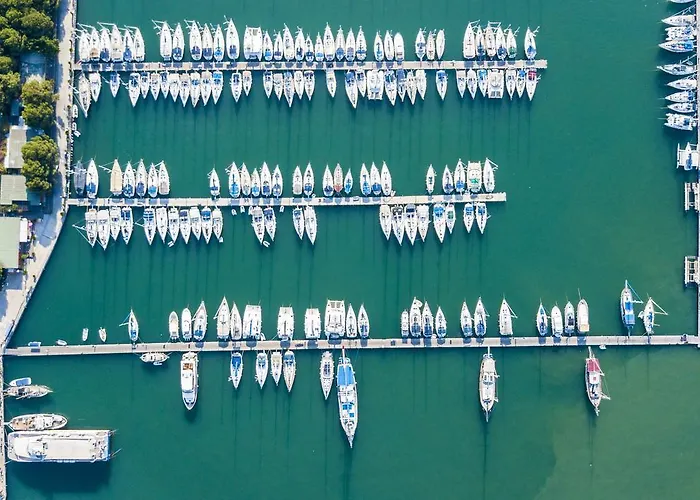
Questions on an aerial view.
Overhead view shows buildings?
Yes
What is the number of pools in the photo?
none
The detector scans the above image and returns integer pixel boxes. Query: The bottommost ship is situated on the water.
[4,423,123,463]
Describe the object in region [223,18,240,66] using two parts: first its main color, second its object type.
white boat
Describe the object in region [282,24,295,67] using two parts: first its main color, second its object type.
white boat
